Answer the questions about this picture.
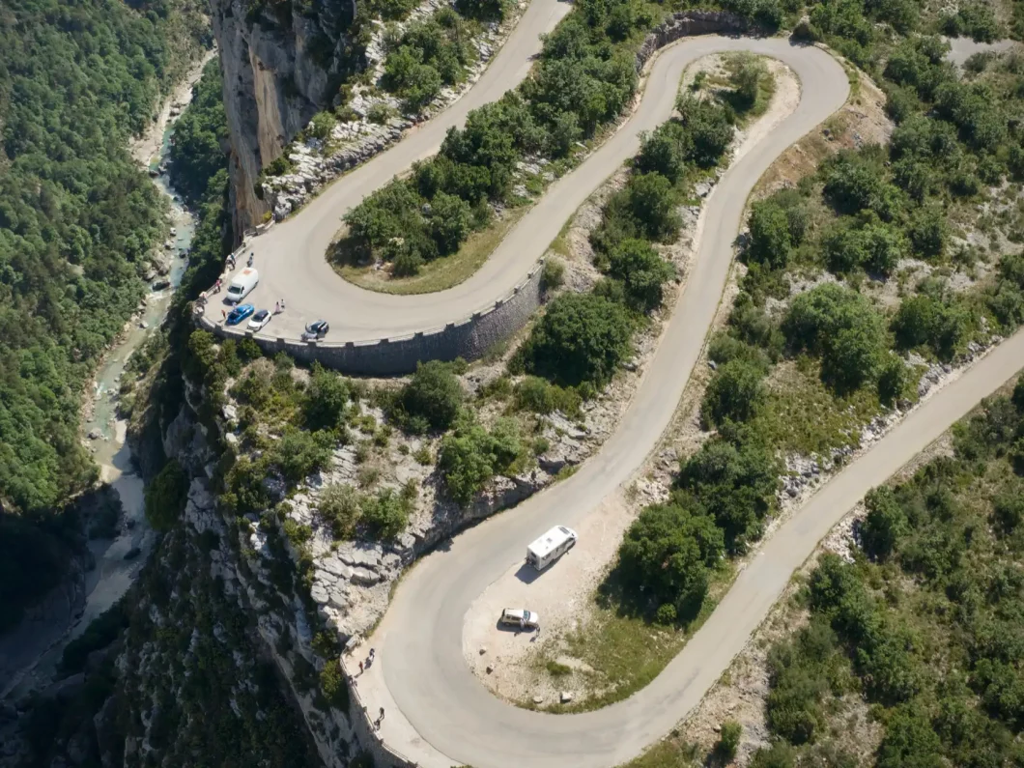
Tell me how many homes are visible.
0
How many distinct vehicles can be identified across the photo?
6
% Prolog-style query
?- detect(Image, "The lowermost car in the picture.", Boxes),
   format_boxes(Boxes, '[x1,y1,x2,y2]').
[501,605,539,627]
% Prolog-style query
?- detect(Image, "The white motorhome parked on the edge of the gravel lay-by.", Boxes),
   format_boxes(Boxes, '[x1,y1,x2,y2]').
[526,529,576,569]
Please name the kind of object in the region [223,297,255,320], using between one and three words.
car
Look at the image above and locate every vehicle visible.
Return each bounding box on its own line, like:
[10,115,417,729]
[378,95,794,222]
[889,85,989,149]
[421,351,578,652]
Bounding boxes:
[526,529,576,569]
[223,297,255,320]
[228,263,261,300]
[246,304,274,329]
[501,605,539,627]
[299,313,329,338]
